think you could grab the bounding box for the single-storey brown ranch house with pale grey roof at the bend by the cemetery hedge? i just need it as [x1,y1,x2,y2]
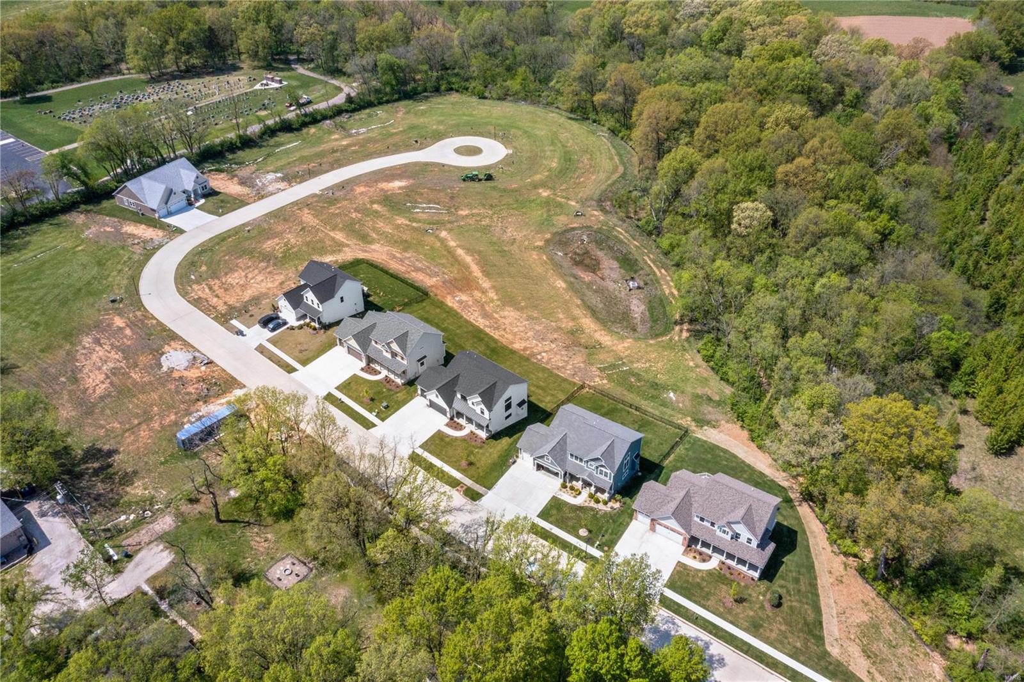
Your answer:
[113,158,213,219]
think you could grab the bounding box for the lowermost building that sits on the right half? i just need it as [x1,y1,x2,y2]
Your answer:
[631,468,784,578]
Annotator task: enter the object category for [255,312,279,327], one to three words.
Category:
car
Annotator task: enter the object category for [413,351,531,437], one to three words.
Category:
house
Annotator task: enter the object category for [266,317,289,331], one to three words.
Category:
car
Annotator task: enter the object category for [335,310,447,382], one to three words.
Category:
house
